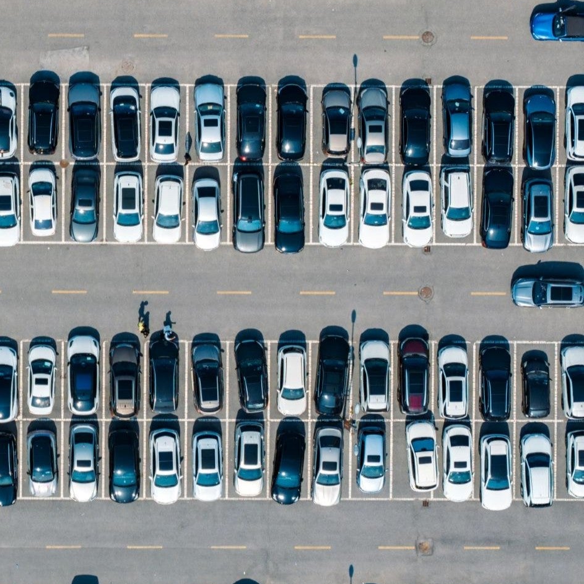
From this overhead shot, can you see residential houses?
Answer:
No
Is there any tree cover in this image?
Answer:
No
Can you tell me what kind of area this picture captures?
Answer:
parking lot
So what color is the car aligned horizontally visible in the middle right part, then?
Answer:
blue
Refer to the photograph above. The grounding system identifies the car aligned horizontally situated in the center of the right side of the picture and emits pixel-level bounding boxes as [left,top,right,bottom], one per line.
[510,275,584,311]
